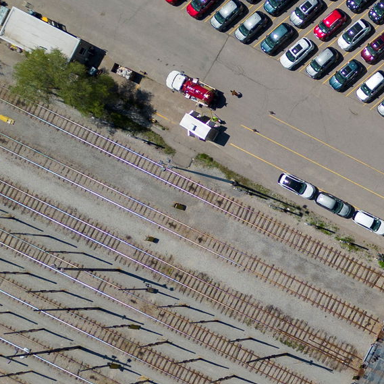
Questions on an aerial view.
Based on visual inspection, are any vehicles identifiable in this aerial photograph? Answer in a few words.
Yes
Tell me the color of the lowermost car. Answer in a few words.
white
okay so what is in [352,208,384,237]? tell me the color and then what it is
white car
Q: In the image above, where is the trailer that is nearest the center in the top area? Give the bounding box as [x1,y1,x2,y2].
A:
[184,108,224,139]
